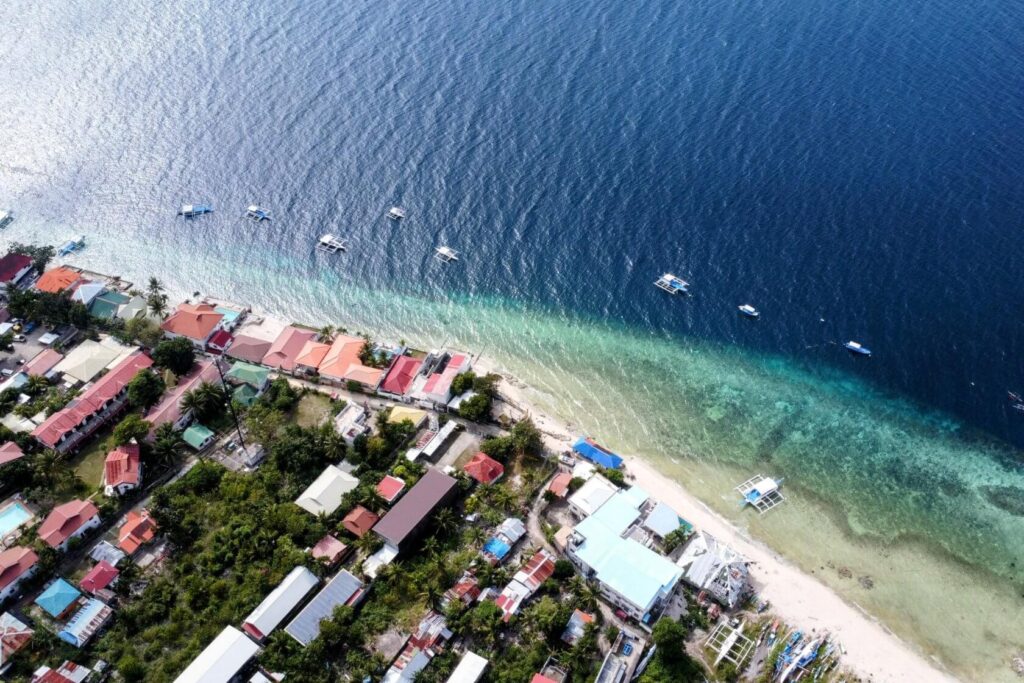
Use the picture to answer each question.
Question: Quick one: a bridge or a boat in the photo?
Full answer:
This aerial view contains a boat.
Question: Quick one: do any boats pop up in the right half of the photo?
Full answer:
Yes, a boat shows up in the right half of the photo.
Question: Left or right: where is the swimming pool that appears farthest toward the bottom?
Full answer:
You can find the swimming pool that appears farthest toward the bottom on the left side of the picture.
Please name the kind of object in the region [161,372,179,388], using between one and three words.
gazebo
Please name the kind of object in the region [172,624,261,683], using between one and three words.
building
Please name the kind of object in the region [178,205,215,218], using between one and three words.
boat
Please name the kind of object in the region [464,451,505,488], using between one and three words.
house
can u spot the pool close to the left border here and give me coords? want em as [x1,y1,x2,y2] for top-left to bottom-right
[0,495,43,548]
